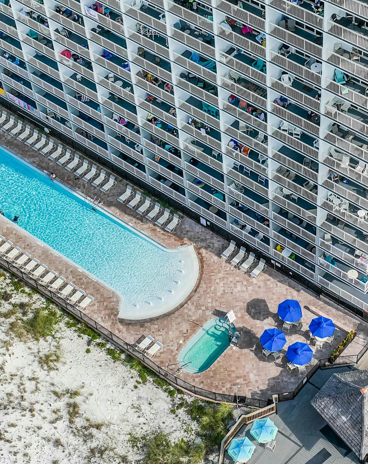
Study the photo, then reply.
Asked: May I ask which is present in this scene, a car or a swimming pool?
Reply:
swimming pool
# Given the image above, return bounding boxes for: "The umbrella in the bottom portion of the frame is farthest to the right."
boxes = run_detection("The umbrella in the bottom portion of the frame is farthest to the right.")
[307,317,337,344]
